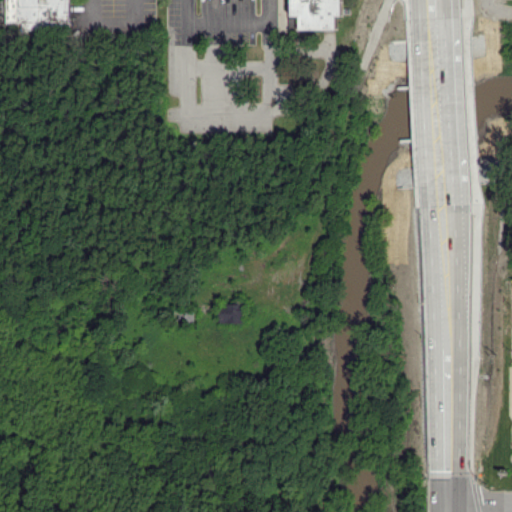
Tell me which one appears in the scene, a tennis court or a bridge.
bridge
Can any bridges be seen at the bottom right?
No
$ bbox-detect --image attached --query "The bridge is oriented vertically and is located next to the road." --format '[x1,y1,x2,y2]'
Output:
[398,18,485,207]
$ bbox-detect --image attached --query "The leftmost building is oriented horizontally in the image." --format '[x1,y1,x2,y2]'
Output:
[4,0,69,32]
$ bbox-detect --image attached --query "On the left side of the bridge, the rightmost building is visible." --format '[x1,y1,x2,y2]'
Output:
[288,0,343,32]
